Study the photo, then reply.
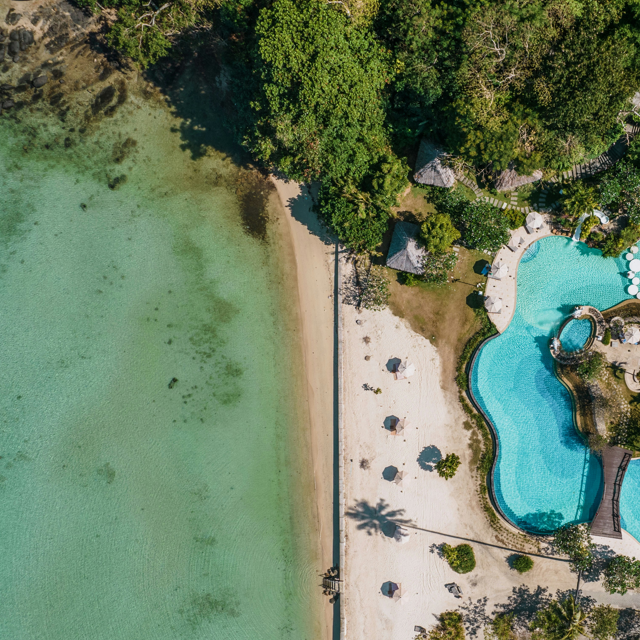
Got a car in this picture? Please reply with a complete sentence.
No, there appears to be no car in this shot.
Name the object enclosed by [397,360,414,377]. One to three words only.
umbrella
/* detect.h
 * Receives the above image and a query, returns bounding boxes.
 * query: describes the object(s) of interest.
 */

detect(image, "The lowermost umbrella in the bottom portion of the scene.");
[393,588,409,604]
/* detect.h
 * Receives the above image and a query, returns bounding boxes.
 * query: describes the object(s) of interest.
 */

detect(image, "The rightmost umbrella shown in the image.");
[625,327,640,344]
